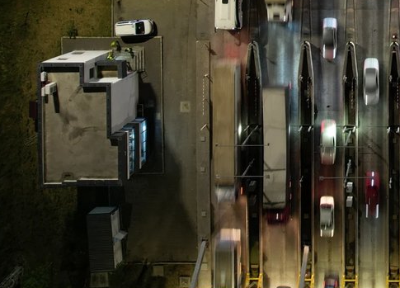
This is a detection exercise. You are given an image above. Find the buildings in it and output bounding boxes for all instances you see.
[87,206,132,278]
[41,44,151,187]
